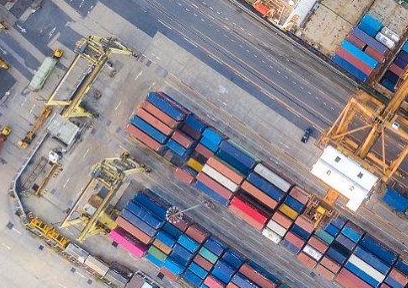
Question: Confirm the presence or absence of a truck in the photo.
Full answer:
Yes, the image includes a truck.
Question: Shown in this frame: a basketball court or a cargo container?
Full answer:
It is a cargo container that can be seen here.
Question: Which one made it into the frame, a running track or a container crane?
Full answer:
This aerial view contains a container crane.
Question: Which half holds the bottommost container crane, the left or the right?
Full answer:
The bottommost container crane is on the left side of the image.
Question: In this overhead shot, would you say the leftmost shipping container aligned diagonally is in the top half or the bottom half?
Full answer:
Seen from above, the leftmost shipping container aligned diagonally lies in the top half of the view.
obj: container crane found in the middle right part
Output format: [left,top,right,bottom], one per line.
[300,60,408,231]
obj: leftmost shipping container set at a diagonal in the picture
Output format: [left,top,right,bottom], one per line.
[30,53,62,89]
